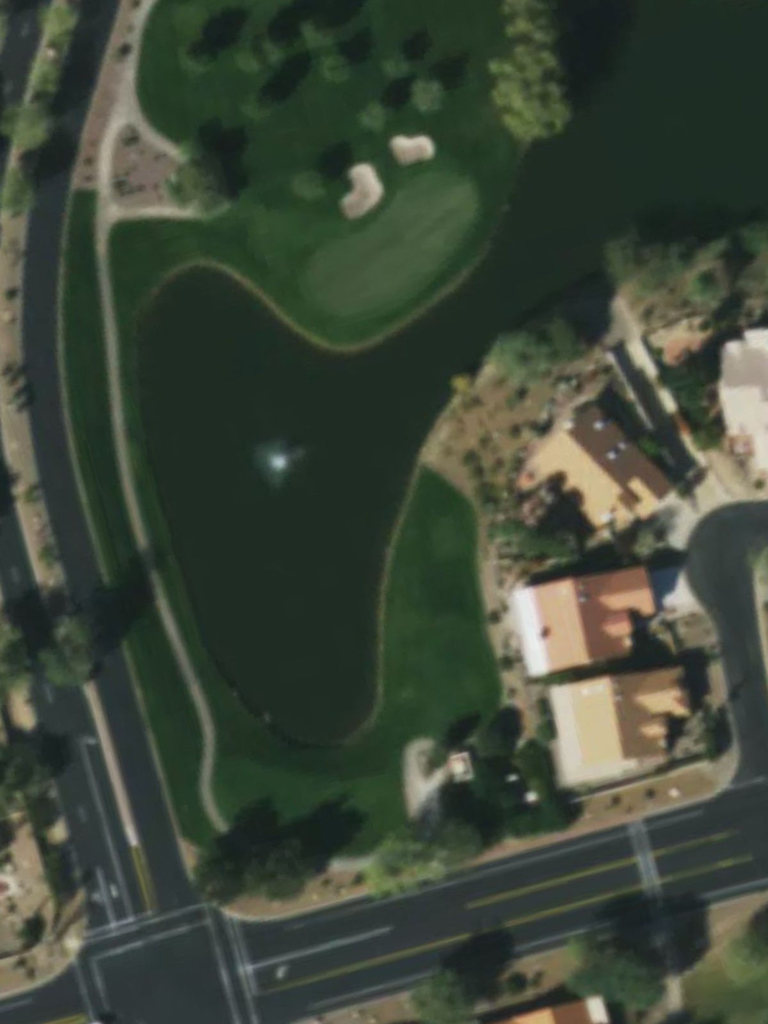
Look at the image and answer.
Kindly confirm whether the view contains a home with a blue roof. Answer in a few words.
No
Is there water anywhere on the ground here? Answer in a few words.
Yes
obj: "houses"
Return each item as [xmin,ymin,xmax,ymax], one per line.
[508,1000,608,1024]
[526,401,674,532]
[724,330,768,466]
[550,668,692,793]
[514,564,657,673]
